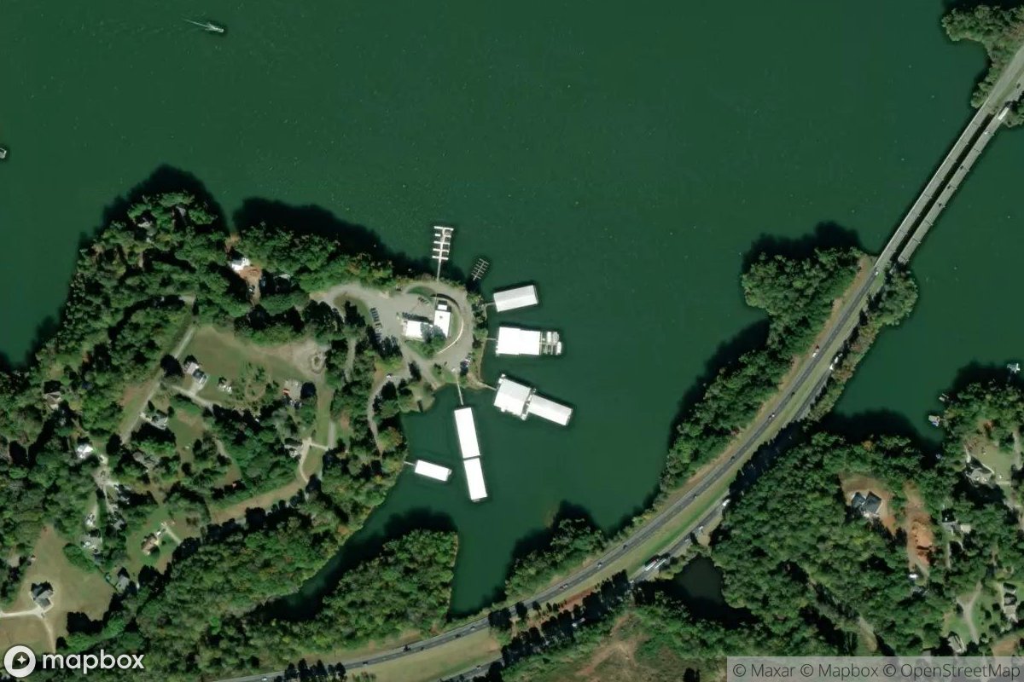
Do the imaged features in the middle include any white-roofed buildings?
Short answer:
Yes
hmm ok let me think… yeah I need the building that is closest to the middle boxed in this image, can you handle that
[402,302,450,339]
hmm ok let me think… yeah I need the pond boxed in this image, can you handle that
[672,556,754,629]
